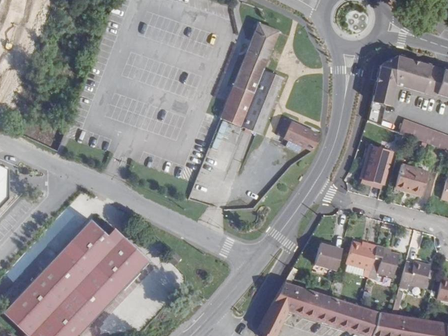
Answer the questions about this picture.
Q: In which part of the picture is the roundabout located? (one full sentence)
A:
The roundabout is in the top right part of the image.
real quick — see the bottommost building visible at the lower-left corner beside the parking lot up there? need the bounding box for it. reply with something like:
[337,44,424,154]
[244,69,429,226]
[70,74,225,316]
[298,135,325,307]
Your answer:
[4,220,150,336]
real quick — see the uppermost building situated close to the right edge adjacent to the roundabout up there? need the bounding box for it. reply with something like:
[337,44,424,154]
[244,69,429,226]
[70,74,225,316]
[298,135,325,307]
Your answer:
[374,55,436,108]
